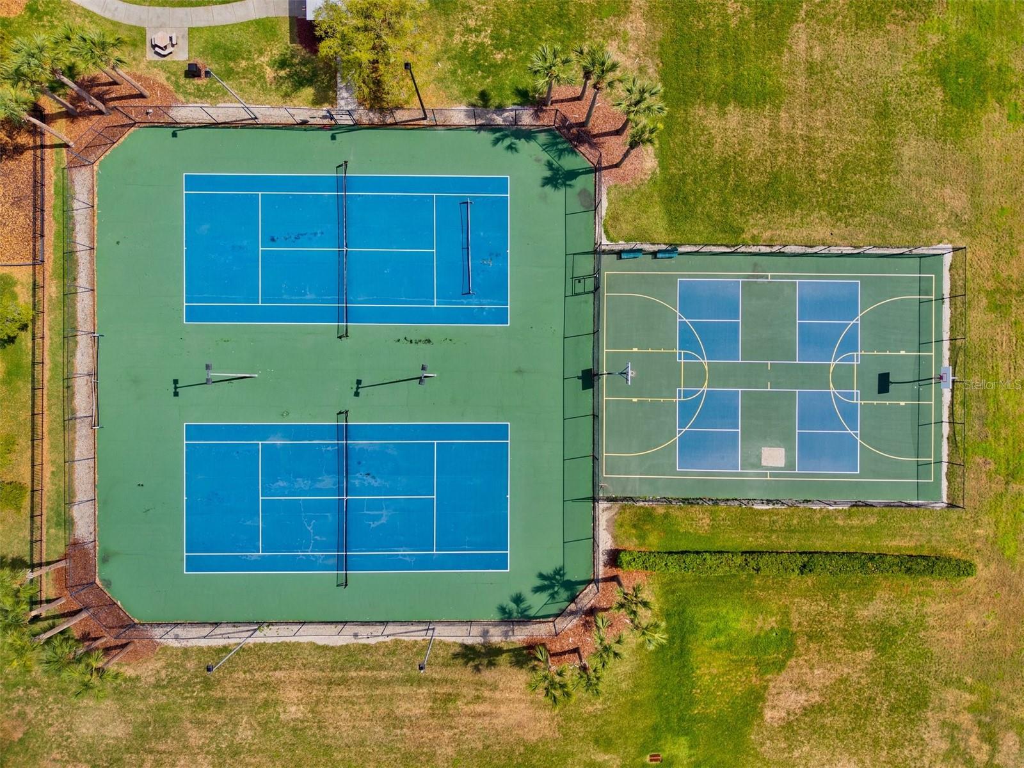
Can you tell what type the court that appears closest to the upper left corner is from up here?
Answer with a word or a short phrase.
tennis court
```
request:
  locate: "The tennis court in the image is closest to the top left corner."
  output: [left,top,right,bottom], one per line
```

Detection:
[184,173,509,325]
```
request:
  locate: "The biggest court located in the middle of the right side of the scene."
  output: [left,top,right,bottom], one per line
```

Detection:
[595,254,943,502]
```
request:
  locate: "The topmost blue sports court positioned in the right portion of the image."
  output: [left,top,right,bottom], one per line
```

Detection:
[677,279,860,363]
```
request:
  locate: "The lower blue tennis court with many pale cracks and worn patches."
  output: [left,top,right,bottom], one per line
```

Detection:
[184,423,510,573]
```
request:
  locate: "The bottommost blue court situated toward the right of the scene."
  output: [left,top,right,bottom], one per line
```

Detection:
[677,388,860,473]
